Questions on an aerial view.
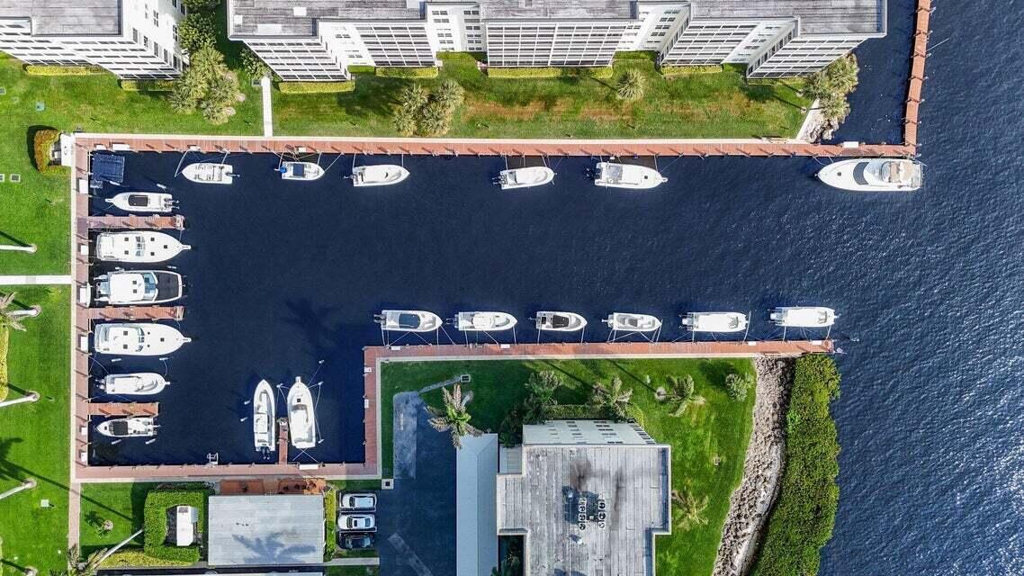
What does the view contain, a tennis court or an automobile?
automobile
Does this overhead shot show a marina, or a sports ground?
marina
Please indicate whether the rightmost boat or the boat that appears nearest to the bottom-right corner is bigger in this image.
the rightmost boat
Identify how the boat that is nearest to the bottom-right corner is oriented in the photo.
from left to right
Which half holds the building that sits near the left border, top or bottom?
top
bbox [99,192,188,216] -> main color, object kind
white boat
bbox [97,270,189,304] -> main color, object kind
white boat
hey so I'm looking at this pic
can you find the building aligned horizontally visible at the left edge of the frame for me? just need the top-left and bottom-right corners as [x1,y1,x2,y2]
[0,0,182,78]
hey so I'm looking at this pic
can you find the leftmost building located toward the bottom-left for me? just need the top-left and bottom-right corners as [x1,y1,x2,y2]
[208,495,326,565]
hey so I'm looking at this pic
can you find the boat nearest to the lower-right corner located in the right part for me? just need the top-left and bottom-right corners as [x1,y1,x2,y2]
[761,307,840,339]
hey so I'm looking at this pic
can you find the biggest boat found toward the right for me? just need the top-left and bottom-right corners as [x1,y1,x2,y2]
[816,156,924,191]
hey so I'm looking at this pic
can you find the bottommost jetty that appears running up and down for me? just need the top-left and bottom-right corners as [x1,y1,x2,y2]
[274,418,290,464]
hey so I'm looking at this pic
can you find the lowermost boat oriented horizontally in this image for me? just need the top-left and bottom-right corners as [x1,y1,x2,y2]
[90,417,168,436]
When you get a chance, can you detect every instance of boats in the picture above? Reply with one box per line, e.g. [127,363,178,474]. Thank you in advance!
[90,357,170,402]
[600,312,663,343]
[583,155,679,188]
[272,152,331,180]
[97,270,189,304]
[279,363,321,461]
[369,310,453,347]
[675,311,763,341]
[525,312,587,331]
[816,156,924,191]
[87,281,92,308]
[761,307,840,339]
[341,154,410,186]
[99,192,188,216]
[446,311,517,344]
[90,417,168,436]
[90,228,188,262]
[181,151,247,183]
[88,317,188,371]
[488,154,559,189]
[252,379,275,463]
